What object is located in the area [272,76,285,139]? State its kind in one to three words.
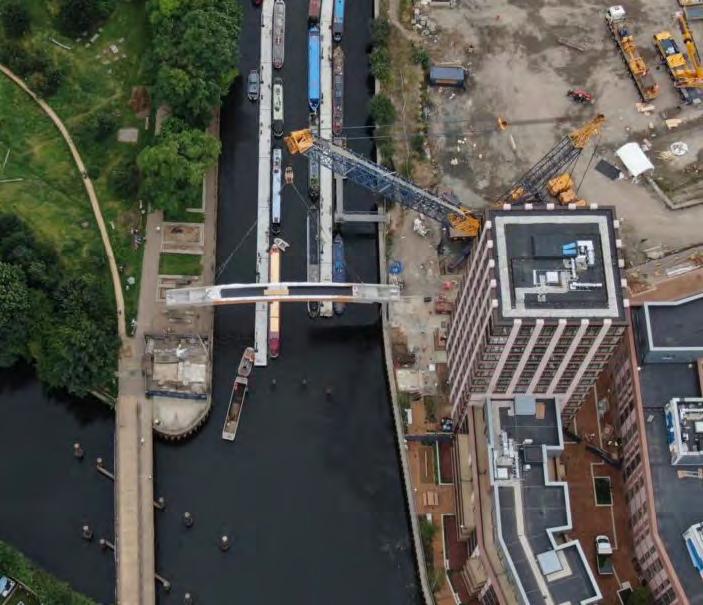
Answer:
boat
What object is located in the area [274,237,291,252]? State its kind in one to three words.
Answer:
boat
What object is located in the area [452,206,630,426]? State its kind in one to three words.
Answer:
building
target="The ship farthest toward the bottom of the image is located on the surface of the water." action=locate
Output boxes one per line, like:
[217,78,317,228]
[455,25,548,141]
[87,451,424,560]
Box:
[220,374,250,442]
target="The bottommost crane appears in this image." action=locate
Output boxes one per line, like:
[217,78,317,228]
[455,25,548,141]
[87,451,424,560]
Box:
[277,113,608,265]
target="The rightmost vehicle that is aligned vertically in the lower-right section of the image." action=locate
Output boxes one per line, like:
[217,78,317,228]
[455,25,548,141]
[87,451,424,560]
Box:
[595,535,612,573]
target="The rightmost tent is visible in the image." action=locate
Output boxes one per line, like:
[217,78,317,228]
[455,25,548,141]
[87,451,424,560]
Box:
[615,139,655,179]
